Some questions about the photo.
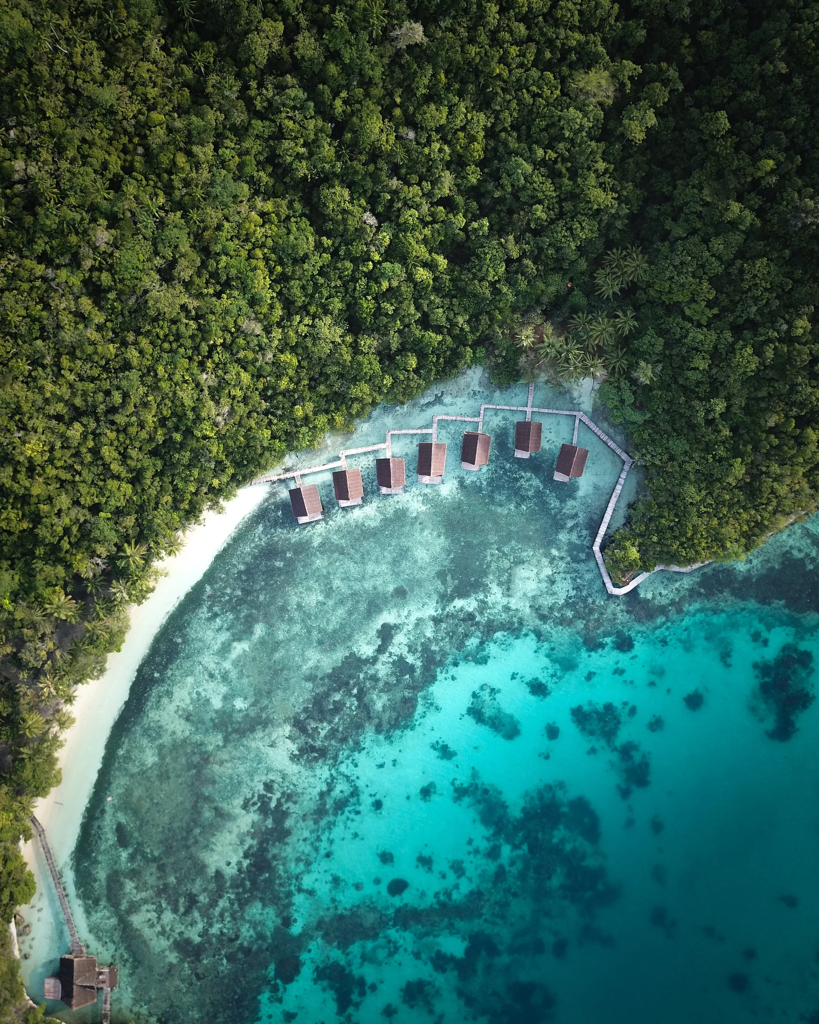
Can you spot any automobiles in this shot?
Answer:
No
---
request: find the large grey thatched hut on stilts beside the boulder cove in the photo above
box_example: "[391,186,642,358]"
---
[44,954,121,1010]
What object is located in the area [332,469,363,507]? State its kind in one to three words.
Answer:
house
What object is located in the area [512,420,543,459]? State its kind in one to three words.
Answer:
house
